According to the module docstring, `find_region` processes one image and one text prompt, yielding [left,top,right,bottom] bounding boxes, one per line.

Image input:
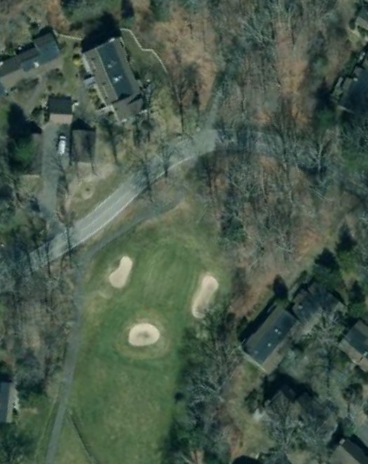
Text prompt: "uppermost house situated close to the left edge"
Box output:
[0,33,62,96]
